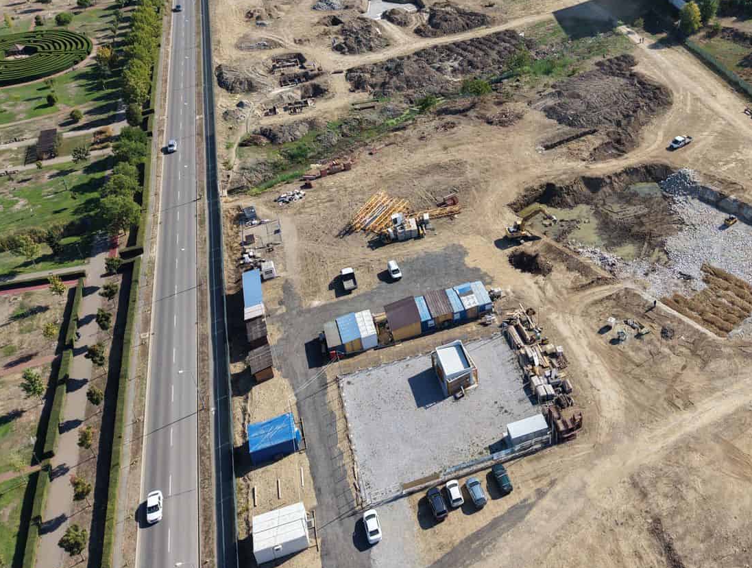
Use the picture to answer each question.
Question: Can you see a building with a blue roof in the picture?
Yes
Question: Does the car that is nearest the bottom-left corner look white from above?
Yes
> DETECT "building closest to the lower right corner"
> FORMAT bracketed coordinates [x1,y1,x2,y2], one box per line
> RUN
[435,341,479,399]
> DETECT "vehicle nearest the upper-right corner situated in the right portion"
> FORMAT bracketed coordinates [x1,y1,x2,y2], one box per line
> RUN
[667,132,695,149]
